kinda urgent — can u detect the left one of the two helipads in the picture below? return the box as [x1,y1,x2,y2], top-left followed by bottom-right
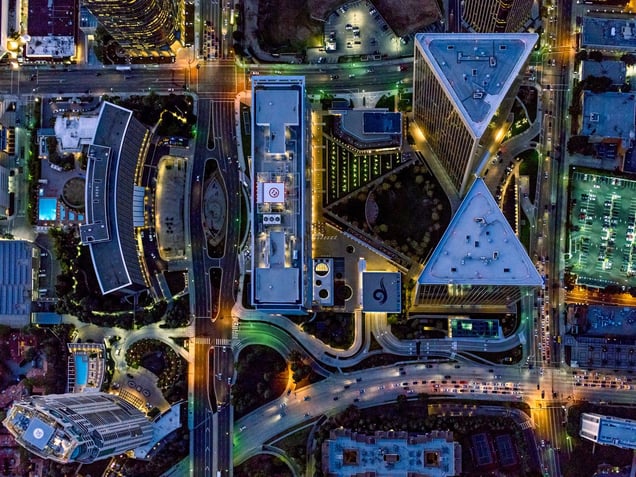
[22,417,58,447]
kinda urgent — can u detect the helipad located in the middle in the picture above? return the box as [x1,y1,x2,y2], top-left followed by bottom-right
[263,182,285,204]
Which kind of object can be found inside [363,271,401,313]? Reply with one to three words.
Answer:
building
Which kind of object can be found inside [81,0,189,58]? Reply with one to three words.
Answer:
building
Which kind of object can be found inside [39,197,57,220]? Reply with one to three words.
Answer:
swimming pool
